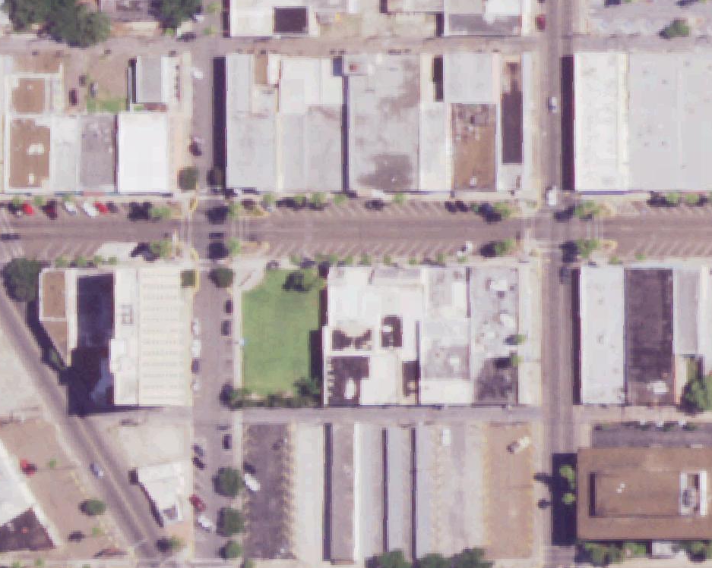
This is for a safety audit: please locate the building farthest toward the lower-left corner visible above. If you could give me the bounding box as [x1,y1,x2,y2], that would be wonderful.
[0,508,56,550]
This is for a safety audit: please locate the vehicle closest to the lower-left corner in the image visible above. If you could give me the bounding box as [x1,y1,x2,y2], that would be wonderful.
[21,460,34,477]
